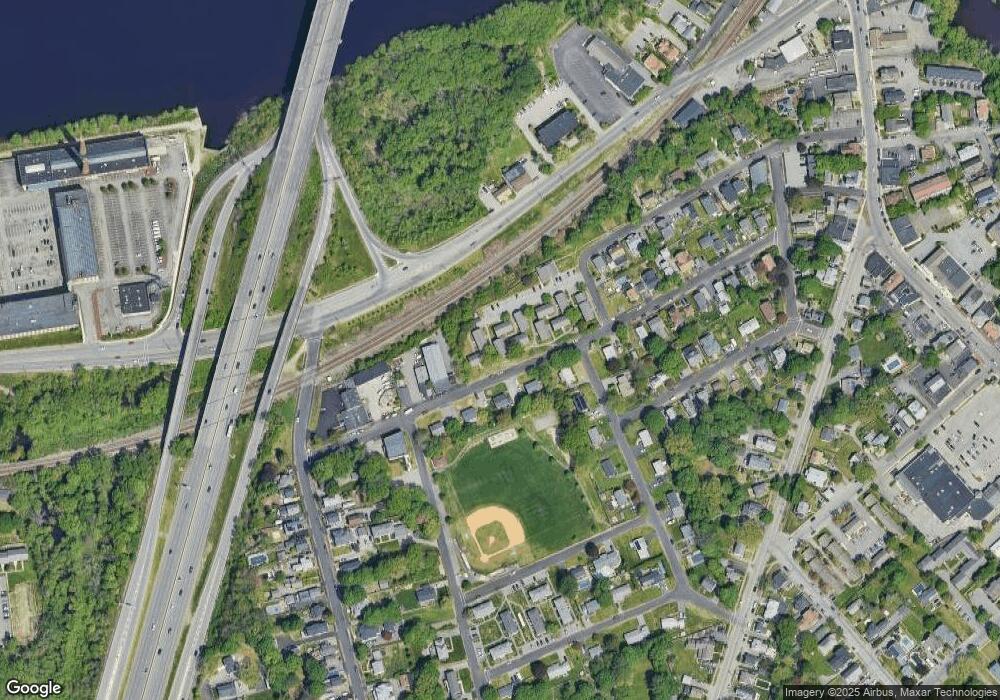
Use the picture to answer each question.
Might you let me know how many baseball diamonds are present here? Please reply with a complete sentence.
The count comes to 1 baseball diamond.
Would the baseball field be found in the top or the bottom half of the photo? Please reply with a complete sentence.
The baseball field sits in the bottom half of the picture.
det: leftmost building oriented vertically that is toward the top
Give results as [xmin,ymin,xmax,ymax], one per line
[54,189,99,283]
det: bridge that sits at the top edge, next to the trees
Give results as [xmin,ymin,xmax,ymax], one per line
[284,0,353,118]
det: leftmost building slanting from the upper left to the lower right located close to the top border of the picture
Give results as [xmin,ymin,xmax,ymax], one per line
[581,33,643,101]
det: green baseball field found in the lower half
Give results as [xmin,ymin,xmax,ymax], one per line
[442,428,601,574]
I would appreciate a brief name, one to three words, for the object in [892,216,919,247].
building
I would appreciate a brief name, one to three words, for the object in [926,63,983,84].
building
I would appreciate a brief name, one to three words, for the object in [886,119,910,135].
house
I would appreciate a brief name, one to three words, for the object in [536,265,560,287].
house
